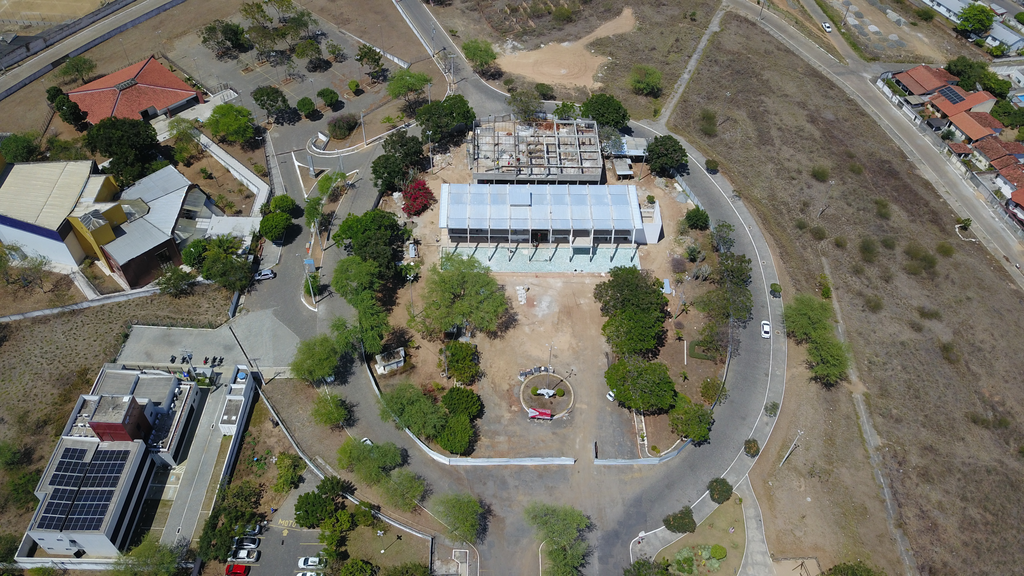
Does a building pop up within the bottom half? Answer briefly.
Yes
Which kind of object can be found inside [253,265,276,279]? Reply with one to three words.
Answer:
car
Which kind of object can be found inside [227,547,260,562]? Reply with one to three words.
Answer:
car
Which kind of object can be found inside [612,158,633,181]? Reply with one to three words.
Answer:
shed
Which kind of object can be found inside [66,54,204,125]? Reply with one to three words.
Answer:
building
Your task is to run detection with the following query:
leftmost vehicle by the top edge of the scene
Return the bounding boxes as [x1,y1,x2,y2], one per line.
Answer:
[821,19,834,31]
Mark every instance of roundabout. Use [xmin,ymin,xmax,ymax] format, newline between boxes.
[521,373,574,419]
